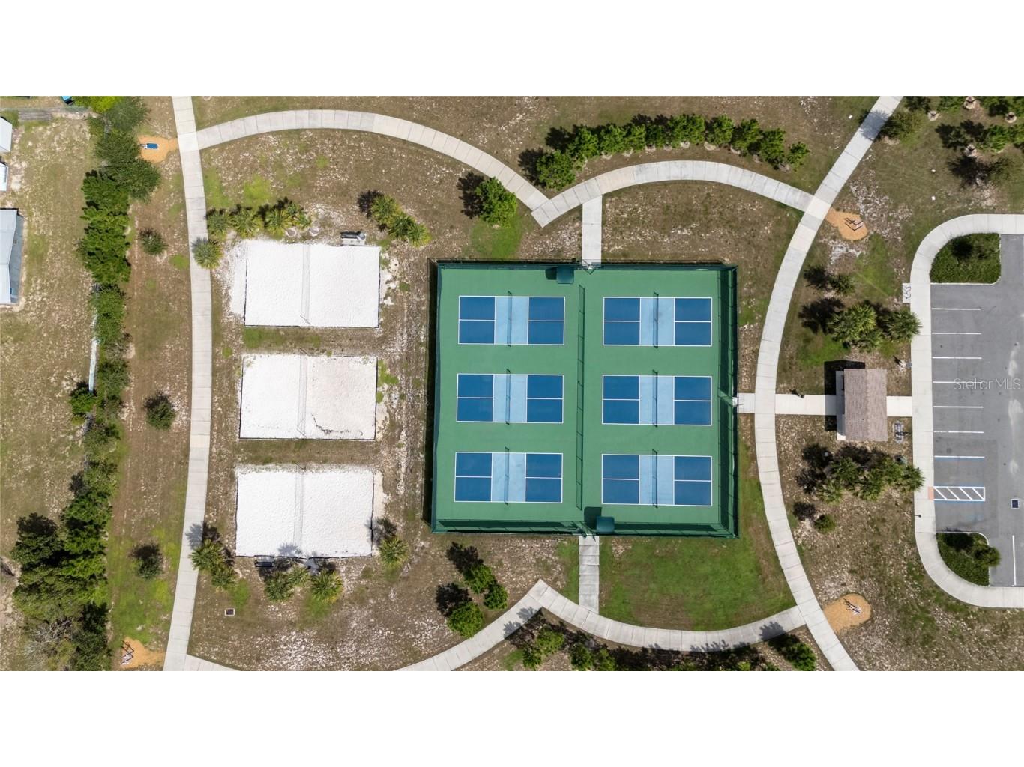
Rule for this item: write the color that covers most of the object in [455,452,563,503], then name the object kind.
blue sports court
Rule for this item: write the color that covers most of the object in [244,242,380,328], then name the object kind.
white sports court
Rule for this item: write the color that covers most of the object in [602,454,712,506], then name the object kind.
blue sports court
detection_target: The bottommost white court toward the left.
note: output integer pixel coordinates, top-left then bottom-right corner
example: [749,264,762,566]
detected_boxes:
[234,467,374,557]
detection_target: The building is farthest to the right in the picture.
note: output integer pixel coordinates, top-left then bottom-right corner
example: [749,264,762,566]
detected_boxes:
[836,369,888,441]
